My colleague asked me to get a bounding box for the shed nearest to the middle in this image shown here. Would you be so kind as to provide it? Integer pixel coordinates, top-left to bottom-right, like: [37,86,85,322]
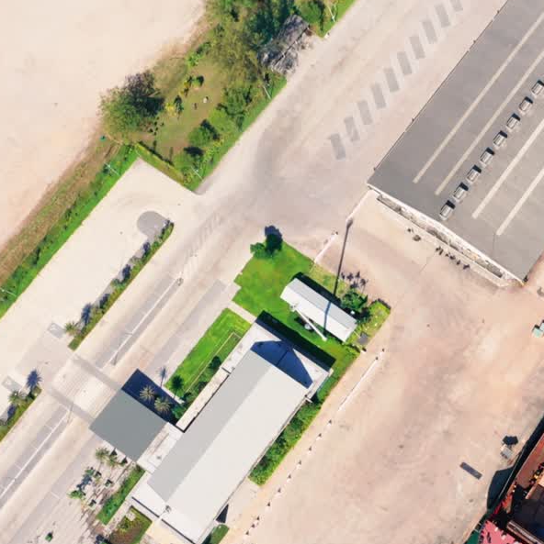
[281,279,359,341]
